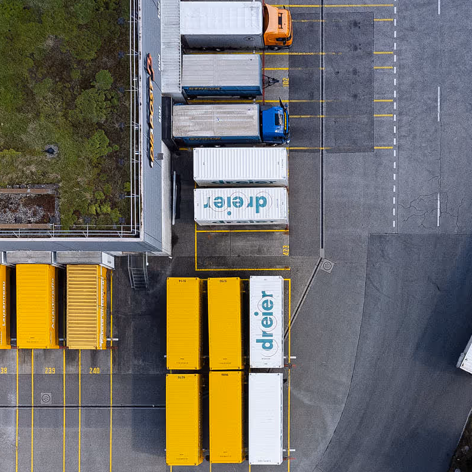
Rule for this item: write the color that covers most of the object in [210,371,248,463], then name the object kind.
yellow shipping container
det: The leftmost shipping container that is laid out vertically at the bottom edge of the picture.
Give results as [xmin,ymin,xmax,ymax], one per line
[166,373,206,465]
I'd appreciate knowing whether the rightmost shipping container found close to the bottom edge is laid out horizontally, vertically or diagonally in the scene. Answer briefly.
vertically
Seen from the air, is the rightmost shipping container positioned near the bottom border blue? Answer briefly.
No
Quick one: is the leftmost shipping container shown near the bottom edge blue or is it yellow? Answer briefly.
yellow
